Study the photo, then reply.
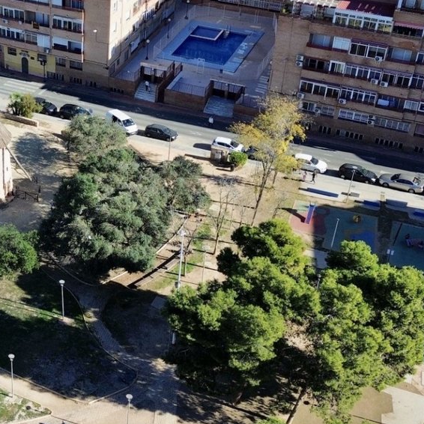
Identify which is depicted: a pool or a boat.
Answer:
pool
